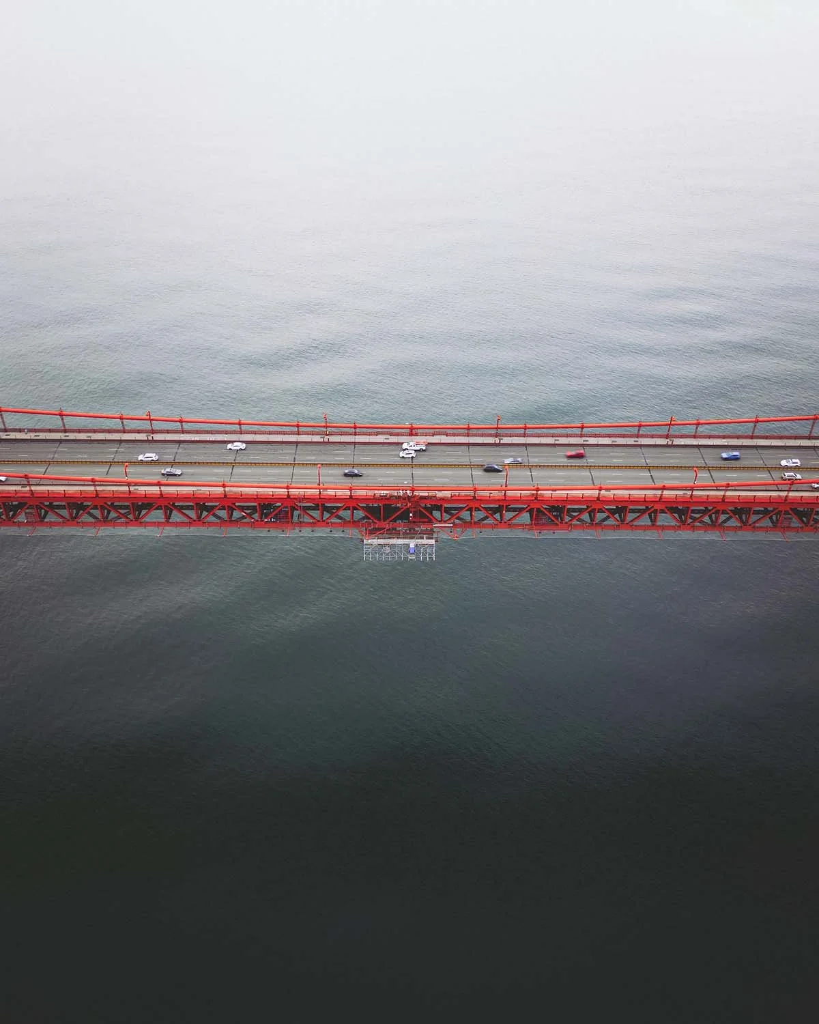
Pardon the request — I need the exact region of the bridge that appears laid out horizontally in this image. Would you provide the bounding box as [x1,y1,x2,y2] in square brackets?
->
[0,404,819,540]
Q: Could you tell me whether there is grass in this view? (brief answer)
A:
No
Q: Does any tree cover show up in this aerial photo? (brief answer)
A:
No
